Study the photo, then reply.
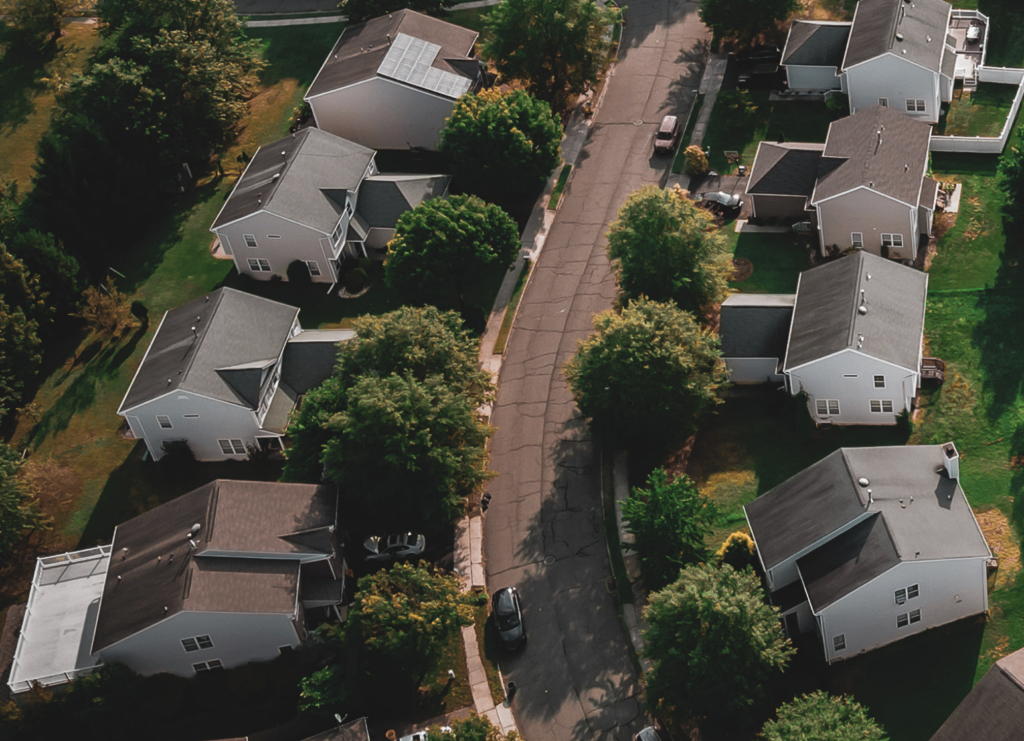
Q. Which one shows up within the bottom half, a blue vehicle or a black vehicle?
black vehicle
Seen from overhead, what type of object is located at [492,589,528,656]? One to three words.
car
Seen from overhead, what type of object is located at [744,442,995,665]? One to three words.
house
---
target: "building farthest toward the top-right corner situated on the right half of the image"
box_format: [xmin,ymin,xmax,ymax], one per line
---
[780,0,961,122]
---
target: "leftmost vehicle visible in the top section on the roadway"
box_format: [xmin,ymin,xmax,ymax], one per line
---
[651,114,683,158]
